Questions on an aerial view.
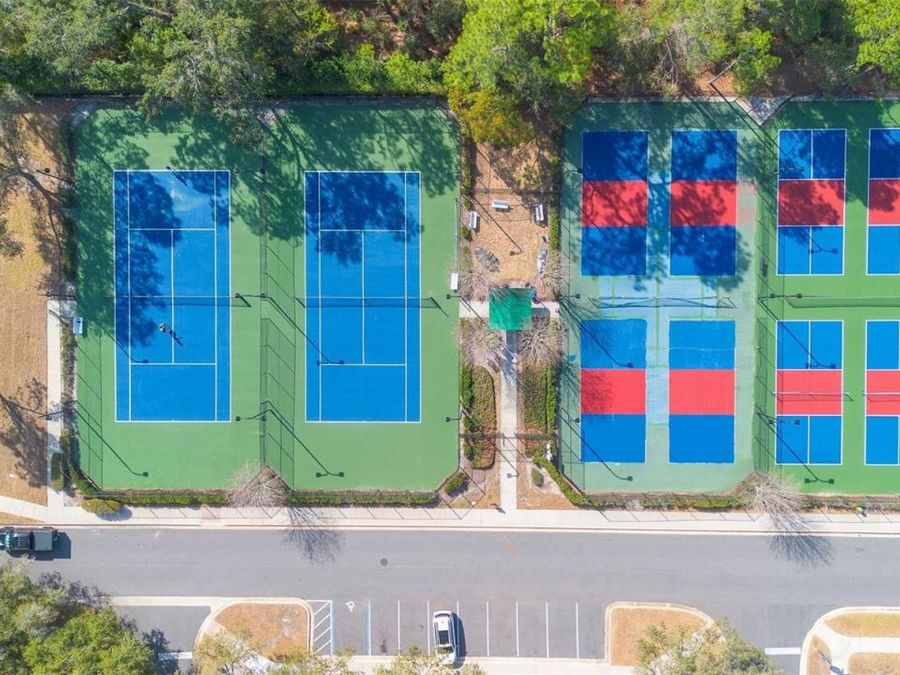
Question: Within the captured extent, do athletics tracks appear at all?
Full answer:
No, no athletics track is visible in the view.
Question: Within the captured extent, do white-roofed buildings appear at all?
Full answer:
No, there isn't any white-roofed building down there.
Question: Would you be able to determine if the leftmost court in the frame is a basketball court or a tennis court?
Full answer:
It turns out the leftmost court is a tennis court.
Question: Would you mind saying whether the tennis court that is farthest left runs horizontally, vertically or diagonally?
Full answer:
The tennis court that is farthest left has been laid out vertically relative to the frame.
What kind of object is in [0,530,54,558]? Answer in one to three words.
truck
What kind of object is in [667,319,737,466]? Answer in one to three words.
sports court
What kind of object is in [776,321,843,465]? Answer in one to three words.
sports court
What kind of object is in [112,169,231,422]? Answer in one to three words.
tennis court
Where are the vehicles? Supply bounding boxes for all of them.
[434,612,460,667]
[0,530,54,558]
